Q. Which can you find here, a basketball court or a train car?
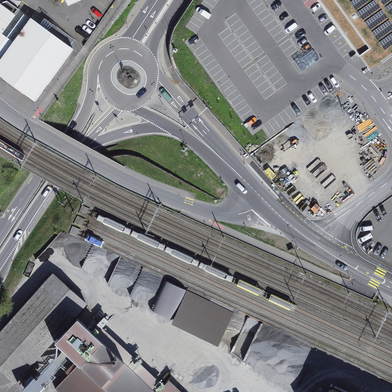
train car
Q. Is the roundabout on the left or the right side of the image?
left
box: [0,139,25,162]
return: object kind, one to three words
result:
rail car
